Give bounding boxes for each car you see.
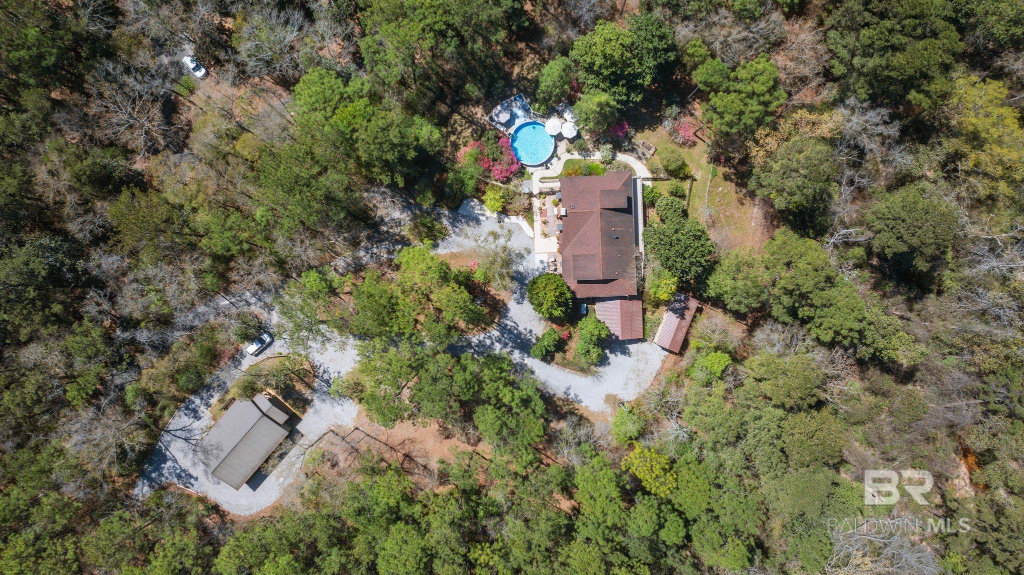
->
[182,55,207,79]
[246,333,273,356]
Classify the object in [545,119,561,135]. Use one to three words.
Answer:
umbrella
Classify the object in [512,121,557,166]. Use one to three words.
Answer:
swimming pool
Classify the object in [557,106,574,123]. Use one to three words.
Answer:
umbrella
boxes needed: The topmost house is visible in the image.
[555,171,637,298]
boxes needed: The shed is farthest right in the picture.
[653,292,698,353]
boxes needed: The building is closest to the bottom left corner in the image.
[193,393,291,491]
